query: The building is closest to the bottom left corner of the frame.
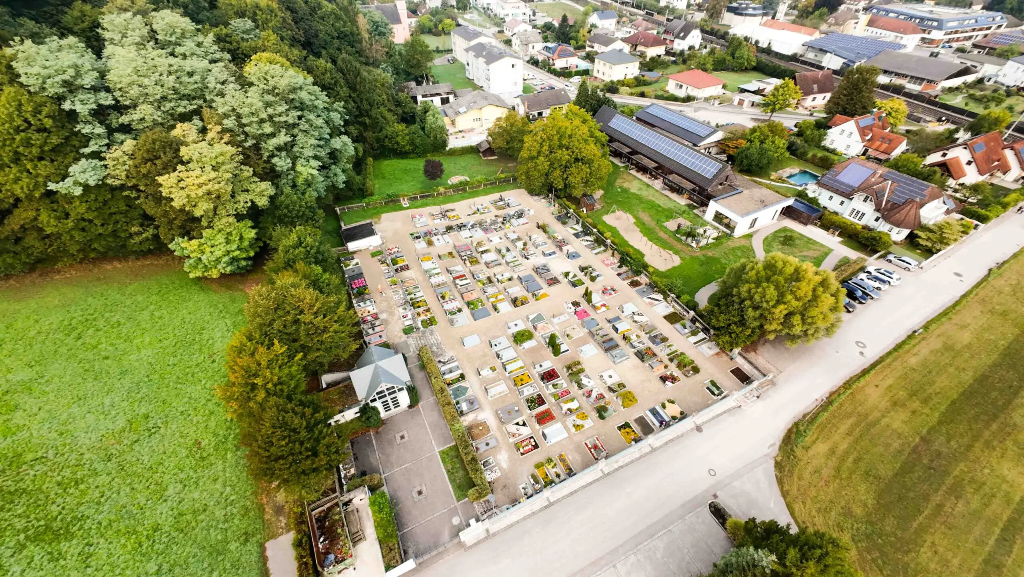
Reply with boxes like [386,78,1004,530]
[351,345,409,418]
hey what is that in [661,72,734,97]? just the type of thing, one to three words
house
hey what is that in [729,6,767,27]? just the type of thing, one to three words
building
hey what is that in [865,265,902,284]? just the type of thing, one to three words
car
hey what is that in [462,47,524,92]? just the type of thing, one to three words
building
